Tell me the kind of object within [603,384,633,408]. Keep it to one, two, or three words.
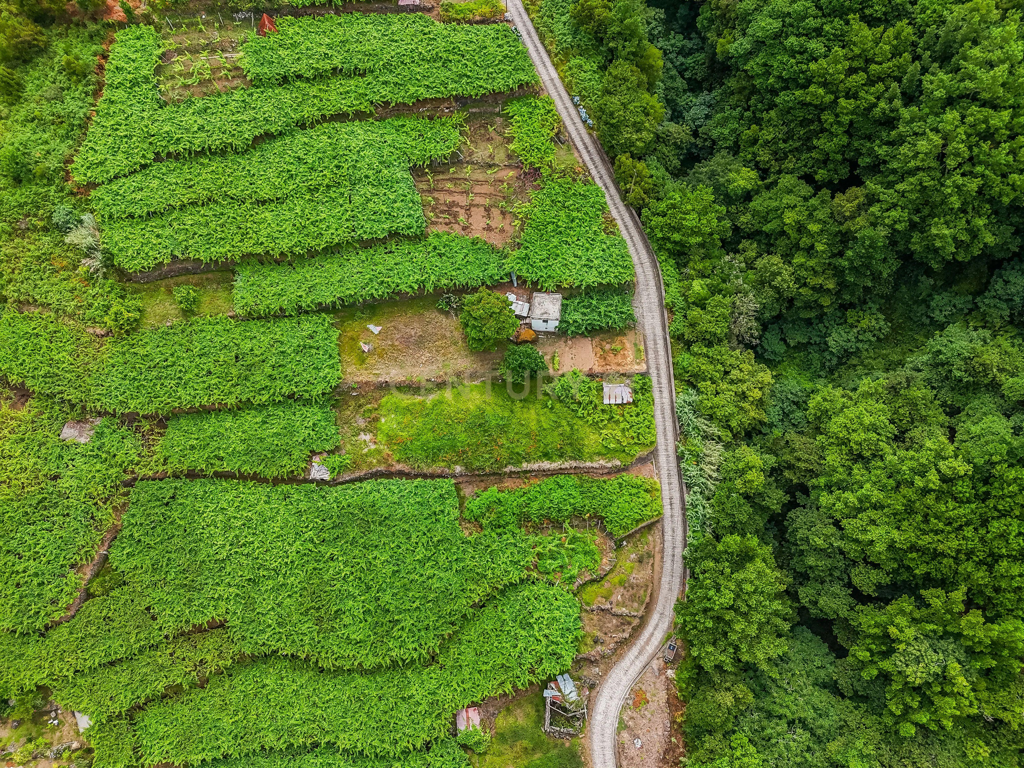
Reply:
shed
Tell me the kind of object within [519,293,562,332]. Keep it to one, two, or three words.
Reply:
house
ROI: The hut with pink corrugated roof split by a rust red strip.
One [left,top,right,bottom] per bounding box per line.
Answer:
[456,706,480,730]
